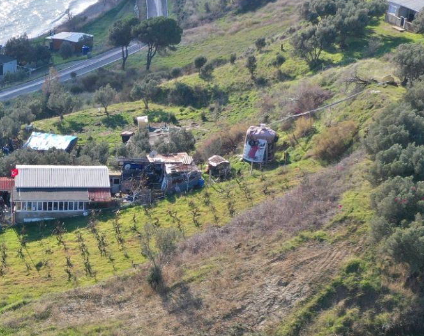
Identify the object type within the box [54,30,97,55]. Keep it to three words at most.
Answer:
house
